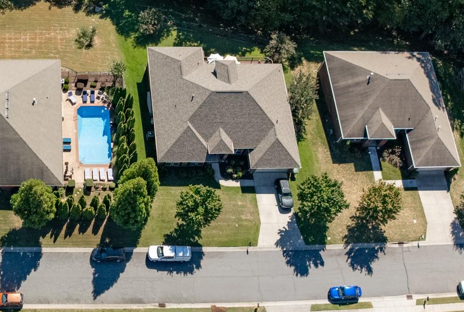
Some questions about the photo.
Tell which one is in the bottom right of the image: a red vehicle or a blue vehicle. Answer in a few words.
blue vehicle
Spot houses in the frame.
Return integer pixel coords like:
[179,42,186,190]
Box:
[0,59,64,191]
[147,47,301,173]
[320,52,462,173]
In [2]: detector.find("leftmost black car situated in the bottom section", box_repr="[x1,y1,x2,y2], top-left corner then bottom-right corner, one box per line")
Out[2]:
[91,245,125,262]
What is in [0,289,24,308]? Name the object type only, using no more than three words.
car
